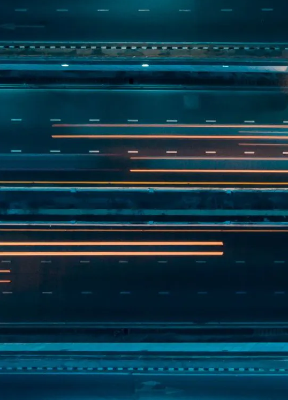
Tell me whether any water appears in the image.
No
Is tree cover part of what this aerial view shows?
No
